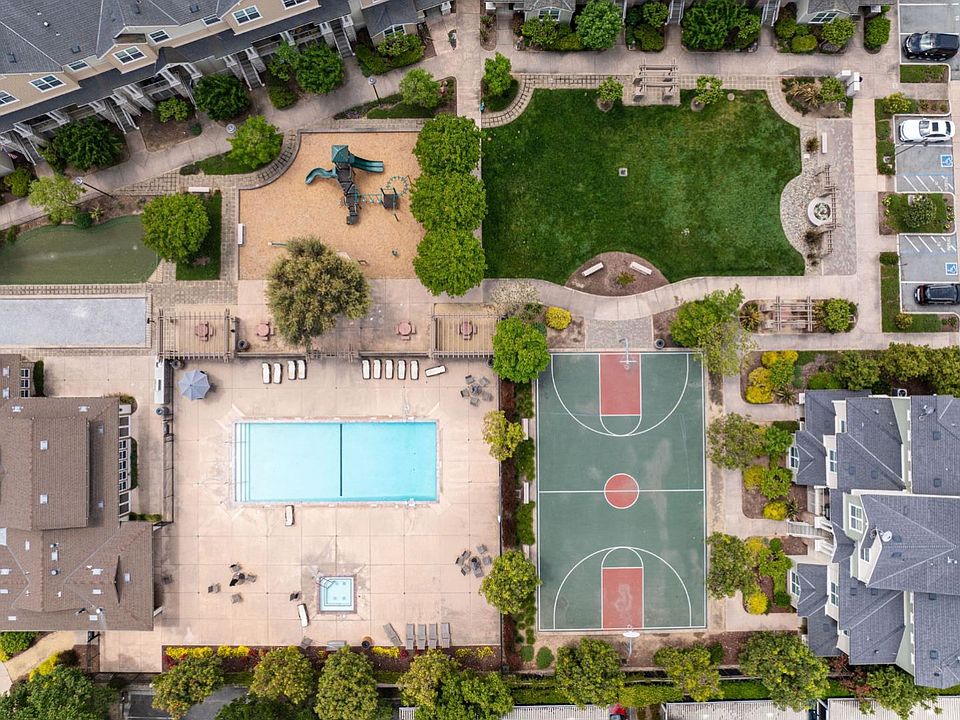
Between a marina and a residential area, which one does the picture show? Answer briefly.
residential area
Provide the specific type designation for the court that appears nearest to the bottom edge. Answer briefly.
basketball court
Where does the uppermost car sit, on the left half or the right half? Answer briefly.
right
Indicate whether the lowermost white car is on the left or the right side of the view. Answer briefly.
right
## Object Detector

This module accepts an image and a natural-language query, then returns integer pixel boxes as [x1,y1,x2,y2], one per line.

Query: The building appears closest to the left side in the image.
[0,354,166,629]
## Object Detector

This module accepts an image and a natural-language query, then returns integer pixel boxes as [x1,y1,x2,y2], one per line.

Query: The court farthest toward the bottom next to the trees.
[533,348,711,633]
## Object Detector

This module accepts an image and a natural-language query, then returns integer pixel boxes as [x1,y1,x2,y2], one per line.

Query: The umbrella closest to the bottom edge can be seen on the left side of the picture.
[177,368,210,400]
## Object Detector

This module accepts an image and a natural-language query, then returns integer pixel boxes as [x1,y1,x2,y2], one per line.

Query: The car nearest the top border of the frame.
[905,27,960,58]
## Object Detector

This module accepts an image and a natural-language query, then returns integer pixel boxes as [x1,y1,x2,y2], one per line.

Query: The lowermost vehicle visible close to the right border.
[918,279,960,305]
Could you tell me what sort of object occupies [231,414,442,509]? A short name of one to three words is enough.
swimming pool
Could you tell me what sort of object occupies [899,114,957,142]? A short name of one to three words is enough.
car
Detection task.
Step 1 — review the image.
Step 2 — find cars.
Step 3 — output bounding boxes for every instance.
[905,27,960,58]
[899,114,957,142]
[918,279,960,305]
[610,704,632,720]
